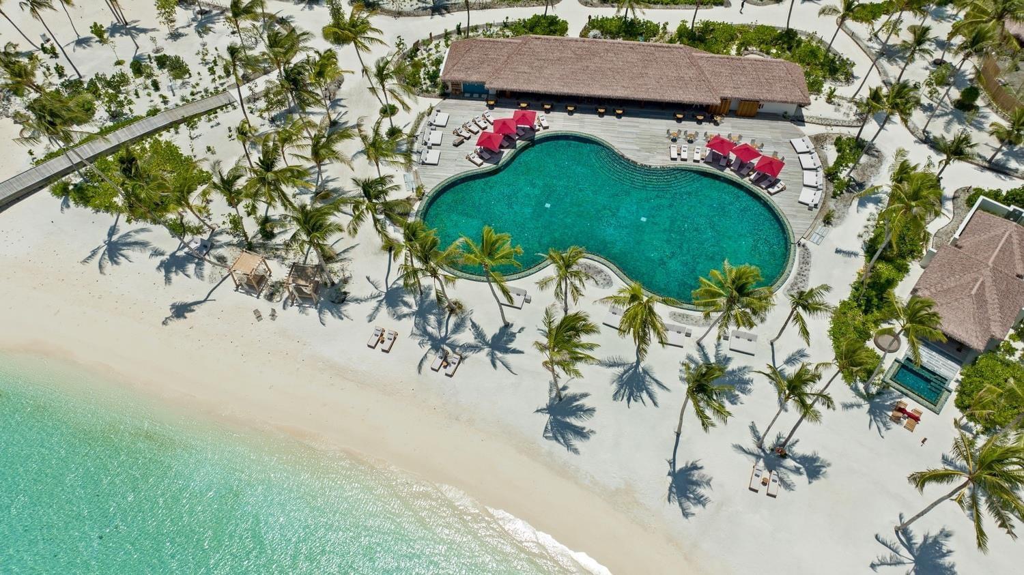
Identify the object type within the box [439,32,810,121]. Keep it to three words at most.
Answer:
building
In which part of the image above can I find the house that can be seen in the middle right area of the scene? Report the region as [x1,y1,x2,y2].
[900,198,1024,380]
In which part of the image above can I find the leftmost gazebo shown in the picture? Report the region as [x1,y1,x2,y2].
[227,248,271,291]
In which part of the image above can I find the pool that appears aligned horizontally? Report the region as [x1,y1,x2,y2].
[414,130,796,313]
